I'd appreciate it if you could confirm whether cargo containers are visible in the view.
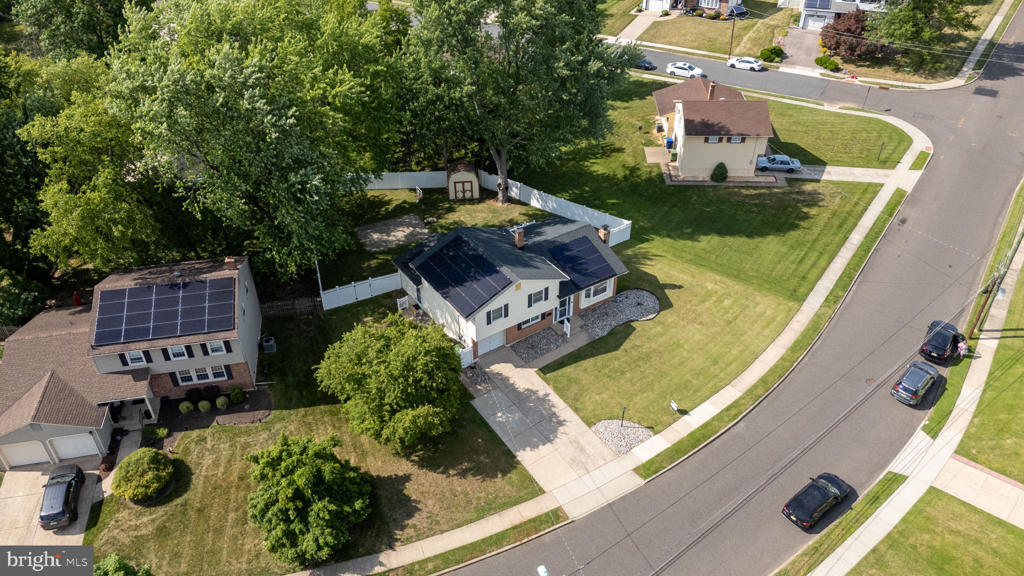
No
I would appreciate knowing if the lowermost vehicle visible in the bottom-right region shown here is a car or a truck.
car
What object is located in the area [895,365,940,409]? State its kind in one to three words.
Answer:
car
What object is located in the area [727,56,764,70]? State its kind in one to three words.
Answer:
car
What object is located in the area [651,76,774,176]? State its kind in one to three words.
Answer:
house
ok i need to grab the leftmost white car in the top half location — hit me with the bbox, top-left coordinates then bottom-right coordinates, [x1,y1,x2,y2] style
[665,60,702,77]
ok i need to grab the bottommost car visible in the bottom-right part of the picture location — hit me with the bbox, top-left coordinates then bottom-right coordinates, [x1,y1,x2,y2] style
[786,476,851,529]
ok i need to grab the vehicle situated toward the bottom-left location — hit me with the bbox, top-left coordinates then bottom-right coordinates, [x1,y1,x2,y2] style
[36,466,83,529]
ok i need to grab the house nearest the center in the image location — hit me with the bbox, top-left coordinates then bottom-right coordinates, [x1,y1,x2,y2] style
[392,216,629,362]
